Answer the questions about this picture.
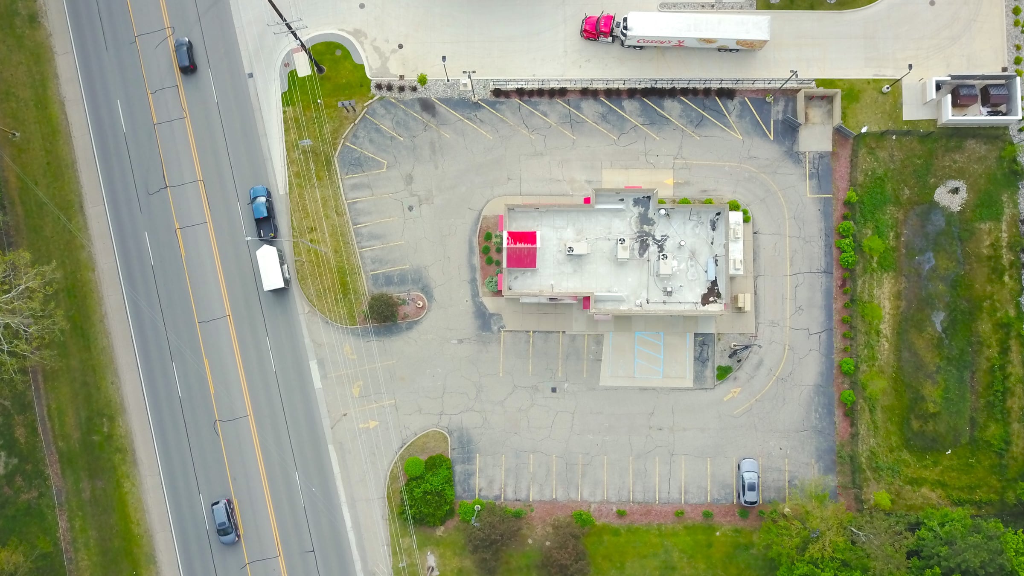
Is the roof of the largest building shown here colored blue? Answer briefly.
No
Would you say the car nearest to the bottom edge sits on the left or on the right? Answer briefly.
left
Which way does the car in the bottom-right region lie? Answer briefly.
vertically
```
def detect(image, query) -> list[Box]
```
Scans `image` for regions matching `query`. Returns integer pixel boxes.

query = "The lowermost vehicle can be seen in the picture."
[211,495,239,545]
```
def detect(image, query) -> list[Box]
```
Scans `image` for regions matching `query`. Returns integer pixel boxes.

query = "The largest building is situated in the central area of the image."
[498,187,729,319]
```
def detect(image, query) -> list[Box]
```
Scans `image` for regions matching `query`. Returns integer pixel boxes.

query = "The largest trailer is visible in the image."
[617,11,770,55]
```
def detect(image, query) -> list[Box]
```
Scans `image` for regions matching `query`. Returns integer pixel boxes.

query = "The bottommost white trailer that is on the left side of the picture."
[256,241,291,293]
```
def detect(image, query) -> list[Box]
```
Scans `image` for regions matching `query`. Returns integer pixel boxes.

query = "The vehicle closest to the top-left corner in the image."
[173,36,198,76]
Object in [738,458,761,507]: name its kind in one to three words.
car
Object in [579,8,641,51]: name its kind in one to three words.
vehicle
